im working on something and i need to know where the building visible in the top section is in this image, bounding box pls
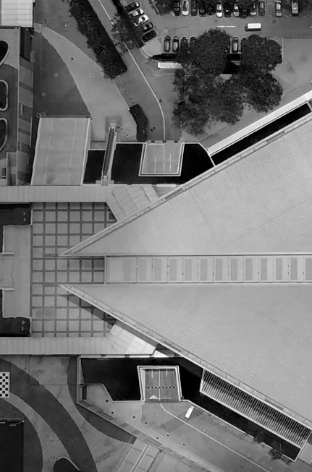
[31,117,96,186]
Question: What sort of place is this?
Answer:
sports ground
